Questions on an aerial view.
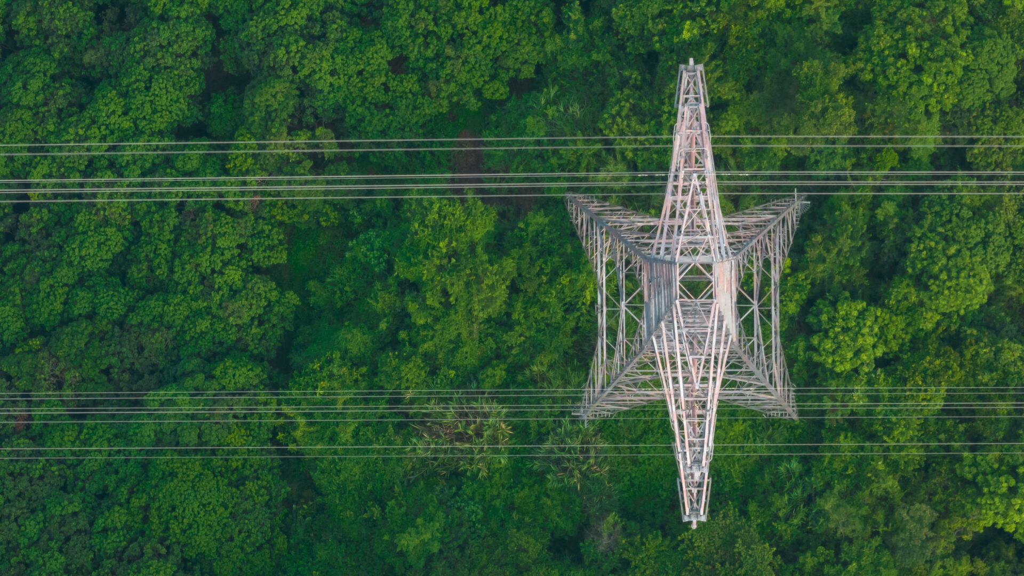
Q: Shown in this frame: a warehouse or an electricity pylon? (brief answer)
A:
electricity pylon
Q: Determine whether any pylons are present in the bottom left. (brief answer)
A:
No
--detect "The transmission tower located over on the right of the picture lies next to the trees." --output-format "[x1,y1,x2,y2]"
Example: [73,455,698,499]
[560,55,815,532]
